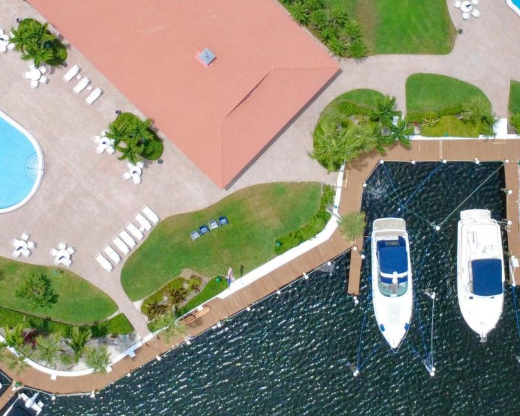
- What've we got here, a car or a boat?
boat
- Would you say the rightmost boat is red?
No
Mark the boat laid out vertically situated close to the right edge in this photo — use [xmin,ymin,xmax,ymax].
[454,206,503,344]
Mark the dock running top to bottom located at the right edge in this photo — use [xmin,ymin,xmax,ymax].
[504,161,520,285]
